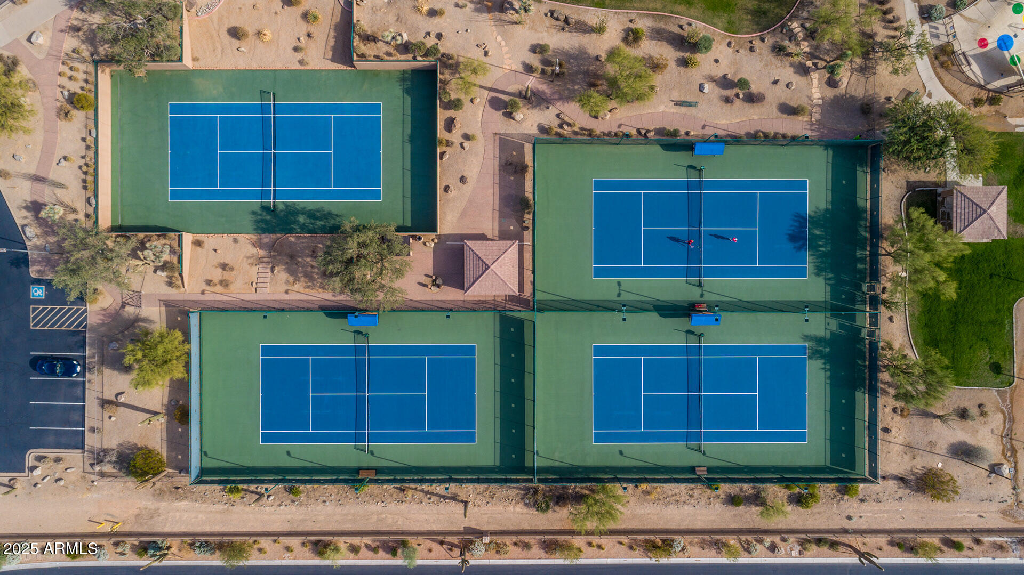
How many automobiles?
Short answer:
1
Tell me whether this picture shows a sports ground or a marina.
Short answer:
sports ground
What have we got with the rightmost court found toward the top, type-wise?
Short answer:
tennis court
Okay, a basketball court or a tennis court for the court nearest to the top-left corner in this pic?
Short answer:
tennis court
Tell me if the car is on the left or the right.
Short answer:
left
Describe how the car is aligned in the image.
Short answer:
from side to side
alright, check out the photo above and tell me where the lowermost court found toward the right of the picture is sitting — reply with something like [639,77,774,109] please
[534,313,865,478]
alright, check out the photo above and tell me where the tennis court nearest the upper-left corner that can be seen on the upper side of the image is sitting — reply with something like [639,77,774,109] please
[111,70,437,234]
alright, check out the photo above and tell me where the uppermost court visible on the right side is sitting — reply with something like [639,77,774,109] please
[535,143,865,311]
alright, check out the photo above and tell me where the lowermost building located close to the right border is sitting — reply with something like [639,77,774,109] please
[944,185,1008,240]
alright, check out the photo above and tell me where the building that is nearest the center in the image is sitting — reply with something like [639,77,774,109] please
[446,240,530,295]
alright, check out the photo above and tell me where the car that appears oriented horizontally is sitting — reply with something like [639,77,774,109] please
[37,358,81,378]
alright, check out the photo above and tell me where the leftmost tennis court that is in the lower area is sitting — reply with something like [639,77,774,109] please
[200,313,534,478]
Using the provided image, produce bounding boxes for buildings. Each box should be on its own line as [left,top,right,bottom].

[944,185,1008,240]
[446,240,530,295]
